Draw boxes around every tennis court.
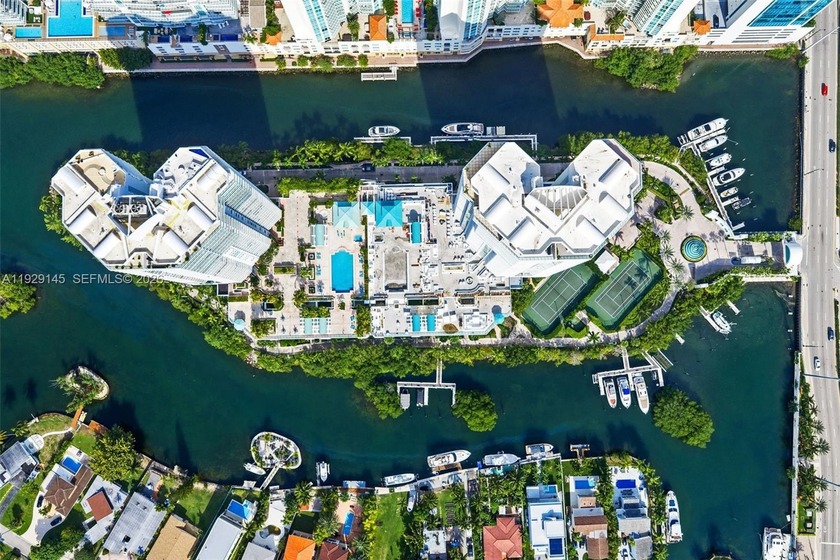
[523,260,602,333]
[587,250,664,329]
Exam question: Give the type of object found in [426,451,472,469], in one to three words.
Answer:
boat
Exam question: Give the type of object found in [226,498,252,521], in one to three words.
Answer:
swimming pool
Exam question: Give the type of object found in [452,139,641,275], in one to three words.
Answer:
building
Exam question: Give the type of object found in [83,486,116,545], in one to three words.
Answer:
house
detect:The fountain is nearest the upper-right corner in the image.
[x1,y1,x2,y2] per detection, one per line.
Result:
[680,235,707,262]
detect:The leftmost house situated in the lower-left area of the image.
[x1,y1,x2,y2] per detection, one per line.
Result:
[0,440,40,491]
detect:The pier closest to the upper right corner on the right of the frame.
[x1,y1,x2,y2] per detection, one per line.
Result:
[678,127,748,231]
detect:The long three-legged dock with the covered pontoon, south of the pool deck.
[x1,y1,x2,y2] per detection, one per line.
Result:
[399,361,457,406]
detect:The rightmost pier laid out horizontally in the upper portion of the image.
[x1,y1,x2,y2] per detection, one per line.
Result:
[430,134,538,151]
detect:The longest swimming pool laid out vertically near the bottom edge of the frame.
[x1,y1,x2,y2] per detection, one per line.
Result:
[342,511,355,536]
